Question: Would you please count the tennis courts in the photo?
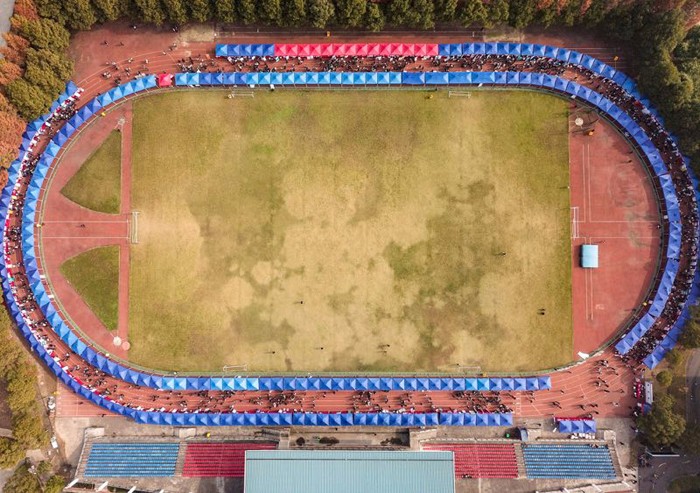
0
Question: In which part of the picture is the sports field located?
center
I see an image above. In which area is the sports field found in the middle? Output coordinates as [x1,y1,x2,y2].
[128,90,574,372]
